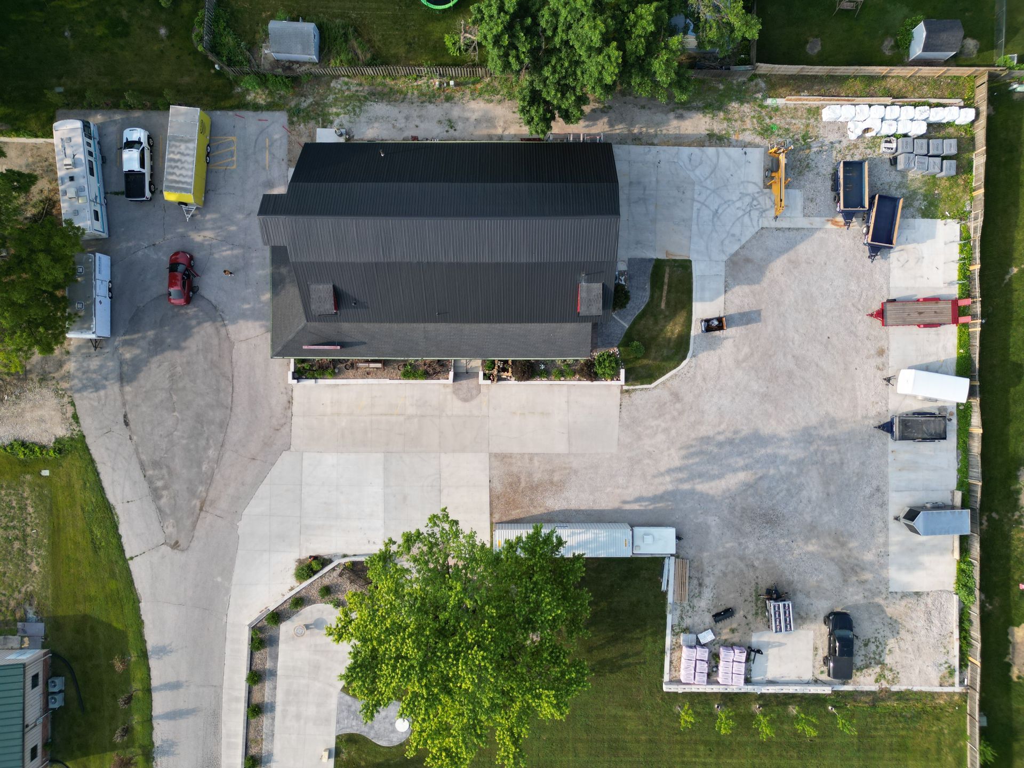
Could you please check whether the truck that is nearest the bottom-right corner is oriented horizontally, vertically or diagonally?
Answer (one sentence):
In this picture, the truck that is nearest the bottom-right corner is oriented vertically.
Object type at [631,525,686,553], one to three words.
vehicle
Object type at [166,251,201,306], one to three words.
car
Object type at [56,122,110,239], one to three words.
camper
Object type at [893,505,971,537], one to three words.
trailer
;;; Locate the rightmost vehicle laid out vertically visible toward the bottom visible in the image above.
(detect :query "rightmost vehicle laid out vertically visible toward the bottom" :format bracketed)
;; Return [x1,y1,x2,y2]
[822,610,855,682]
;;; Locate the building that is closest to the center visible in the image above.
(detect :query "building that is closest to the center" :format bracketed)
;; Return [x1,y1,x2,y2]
[256,143,621,358]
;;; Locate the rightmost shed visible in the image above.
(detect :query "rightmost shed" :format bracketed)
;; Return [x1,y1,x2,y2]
[911,18,966,61]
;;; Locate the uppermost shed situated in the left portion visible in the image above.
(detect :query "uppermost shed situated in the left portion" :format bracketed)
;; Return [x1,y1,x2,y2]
[265,11,318,60]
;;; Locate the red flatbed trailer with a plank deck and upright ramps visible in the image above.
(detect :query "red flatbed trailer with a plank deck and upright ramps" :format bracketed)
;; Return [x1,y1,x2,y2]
[866,299,972,328]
